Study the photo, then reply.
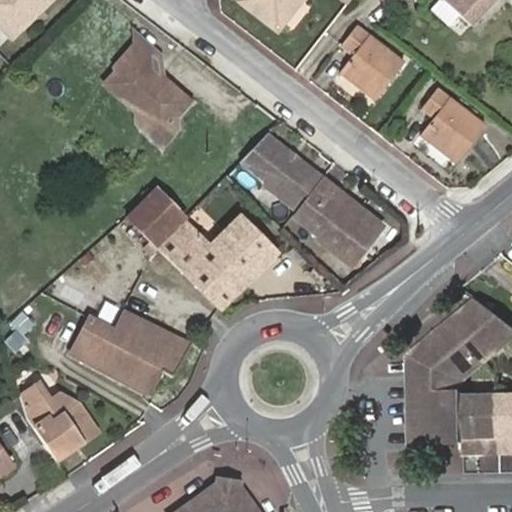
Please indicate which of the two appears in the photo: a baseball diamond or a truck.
truck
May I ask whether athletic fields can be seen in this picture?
No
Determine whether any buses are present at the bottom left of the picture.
Yes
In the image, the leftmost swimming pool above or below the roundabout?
above it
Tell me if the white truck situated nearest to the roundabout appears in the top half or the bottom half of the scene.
bottom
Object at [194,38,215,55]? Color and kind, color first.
gray car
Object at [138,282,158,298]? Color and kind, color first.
white car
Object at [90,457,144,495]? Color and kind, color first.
white bus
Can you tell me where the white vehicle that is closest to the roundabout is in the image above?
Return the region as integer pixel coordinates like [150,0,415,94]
[178,392,214,428]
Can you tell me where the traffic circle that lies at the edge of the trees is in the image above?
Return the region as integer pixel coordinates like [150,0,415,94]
[216,316,342,442]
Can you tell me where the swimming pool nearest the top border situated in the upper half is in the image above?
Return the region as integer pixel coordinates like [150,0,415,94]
[236,170,258,190]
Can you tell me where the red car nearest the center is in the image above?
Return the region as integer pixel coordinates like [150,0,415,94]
[260,326,282,338]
